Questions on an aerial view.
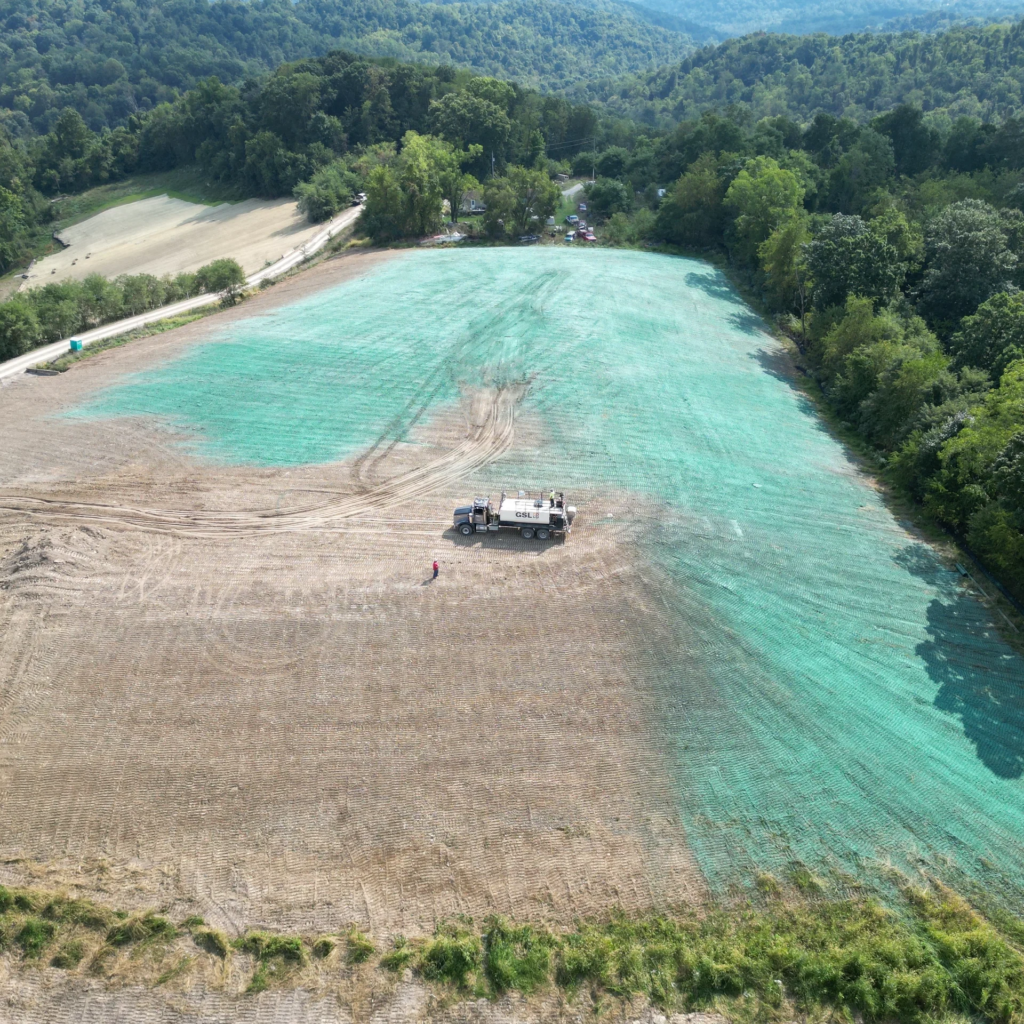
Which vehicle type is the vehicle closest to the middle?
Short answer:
truck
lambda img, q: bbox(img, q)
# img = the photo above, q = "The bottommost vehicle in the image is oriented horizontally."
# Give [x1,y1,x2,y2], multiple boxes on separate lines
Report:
[451,484,578,539]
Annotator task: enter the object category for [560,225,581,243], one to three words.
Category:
vehicle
